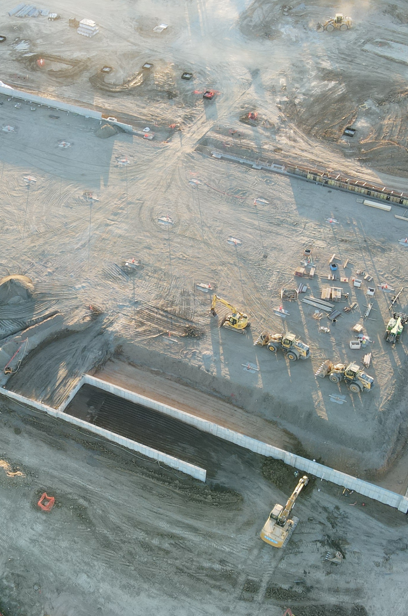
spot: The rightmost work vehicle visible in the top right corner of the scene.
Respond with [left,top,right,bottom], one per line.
[315,14,359,31]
